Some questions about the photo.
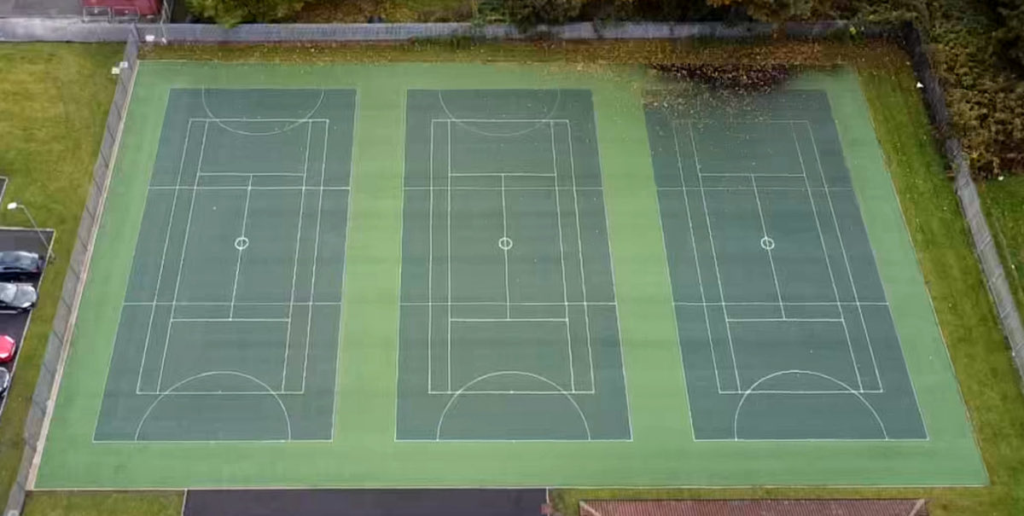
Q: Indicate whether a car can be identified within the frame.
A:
Yes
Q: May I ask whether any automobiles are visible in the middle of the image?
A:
No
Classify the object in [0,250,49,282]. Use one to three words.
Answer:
car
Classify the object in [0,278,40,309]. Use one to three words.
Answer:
car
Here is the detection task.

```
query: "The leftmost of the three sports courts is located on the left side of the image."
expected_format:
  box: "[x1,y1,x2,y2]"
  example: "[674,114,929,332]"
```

[95,88,357,441]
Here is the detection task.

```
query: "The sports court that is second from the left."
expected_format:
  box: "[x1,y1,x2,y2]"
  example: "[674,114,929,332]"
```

[396,88,631,440]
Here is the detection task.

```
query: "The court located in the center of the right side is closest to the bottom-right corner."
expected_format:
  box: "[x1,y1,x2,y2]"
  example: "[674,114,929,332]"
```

[642,89,927,439]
